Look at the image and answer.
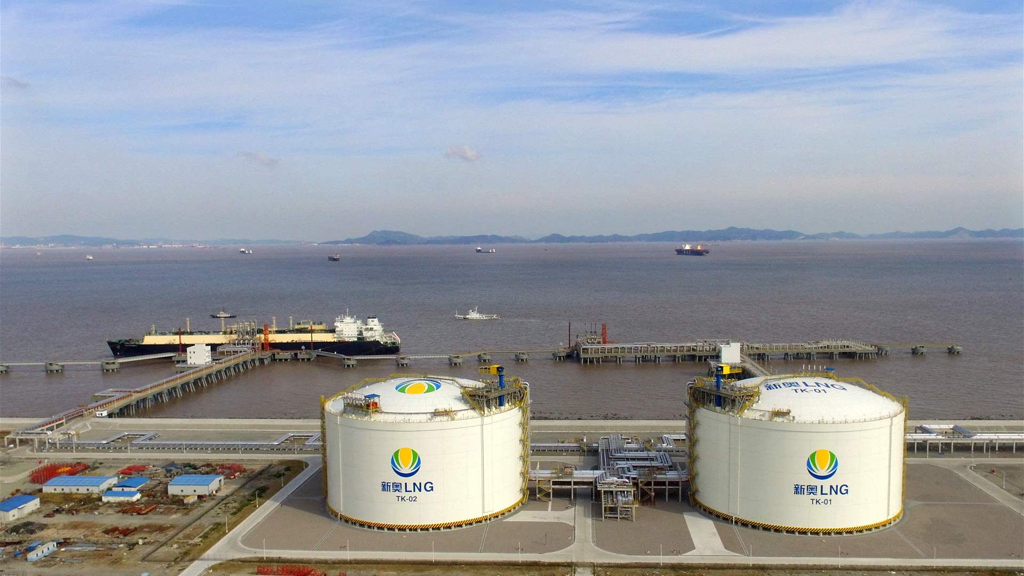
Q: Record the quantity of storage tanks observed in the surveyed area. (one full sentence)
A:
There are 2 storage tanks in the image.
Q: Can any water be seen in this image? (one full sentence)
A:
Yes, water can be seen from above here.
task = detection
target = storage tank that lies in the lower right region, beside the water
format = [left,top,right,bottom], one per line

[674,368,910,536]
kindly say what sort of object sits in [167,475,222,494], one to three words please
shed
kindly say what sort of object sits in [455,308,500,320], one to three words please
ship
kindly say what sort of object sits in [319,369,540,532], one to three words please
storage tank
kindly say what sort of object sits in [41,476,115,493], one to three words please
shed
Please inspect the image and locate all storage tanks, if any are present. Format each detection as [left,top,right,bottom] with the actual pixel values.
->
[674,368,910,536]
[319,369,540,532]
